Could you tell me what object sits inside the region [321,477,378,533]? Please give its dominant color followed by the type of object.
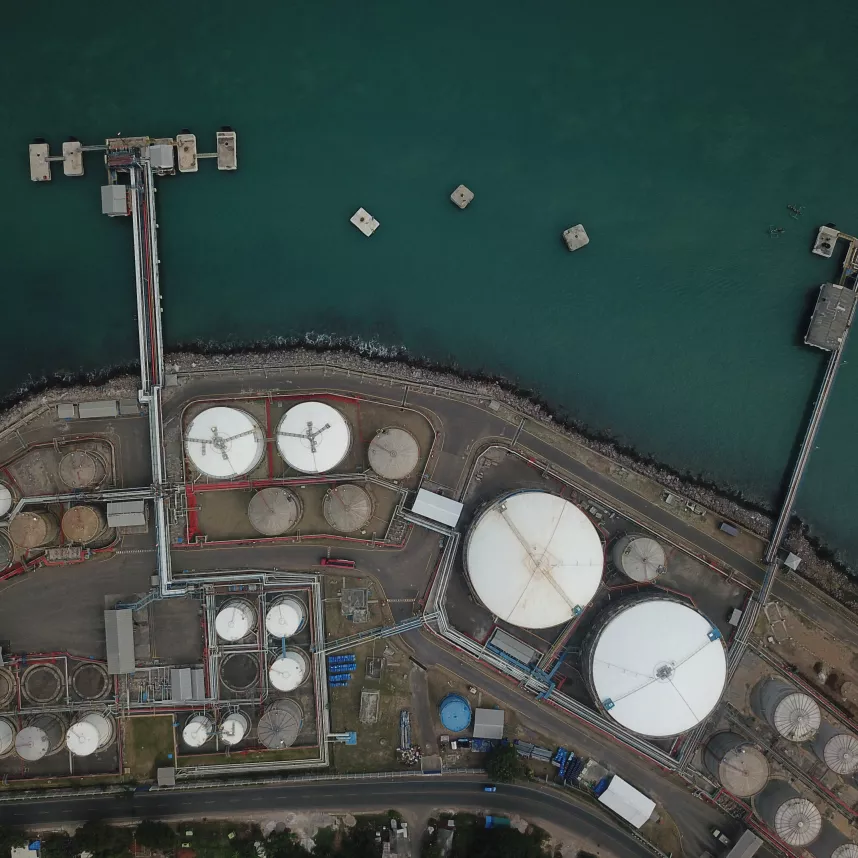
gray storage tank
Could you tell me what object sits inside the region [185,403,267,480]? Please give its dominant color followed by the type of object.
white storage tank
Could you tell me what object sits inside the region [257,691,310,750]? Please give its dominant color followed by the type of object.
gray storage tank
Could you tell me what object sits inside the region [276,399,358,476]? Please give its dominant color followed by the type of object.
white storage tank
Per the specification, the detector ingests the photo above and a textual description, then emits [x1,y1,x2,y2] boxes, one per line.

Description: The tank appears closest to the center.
[366,424,423,483]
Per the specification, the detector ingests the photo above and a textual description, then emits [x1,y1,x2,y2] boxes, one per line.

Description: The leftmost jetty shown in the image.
[104,136,177,392]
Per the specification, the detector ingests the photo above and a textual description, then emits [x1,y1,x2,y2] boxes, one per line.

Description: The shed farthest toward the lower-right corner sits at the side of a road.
[717,824,763,858]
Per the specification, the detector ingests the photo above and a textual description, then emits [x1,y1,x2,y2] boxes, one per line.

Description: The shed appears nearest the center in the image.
[412,488,463,527]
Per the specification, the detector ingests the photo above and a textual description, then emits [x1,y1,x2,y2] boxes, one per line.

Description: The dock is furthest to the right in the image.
[766,240,858,565]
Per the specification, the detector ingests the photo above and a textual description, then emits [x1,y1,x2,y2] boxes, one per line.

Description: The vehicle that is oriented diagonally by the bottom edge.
[714,830,731,846]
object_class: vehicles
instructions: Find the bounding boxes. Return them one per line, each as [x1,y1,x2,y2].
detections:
[714,830,731,846]
[483,786,496,793]
[319,558,355,570]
